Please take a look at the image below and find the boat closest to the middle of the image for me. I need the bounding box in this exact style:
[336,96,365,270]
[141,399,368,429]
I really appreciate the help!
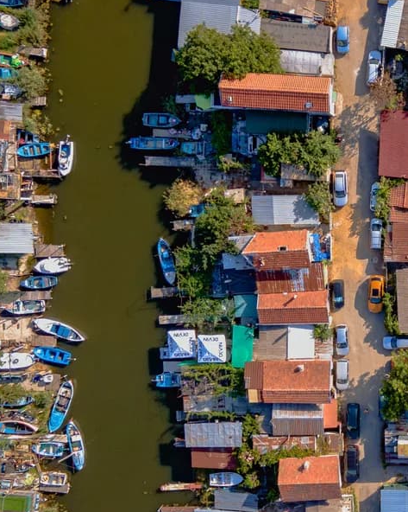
[156,238,177,285]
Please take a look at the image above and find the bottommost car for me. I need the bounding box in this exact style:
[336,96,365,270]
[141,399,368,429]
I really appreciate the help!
[344,445,361,483]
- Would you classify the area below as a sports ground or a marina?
marina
